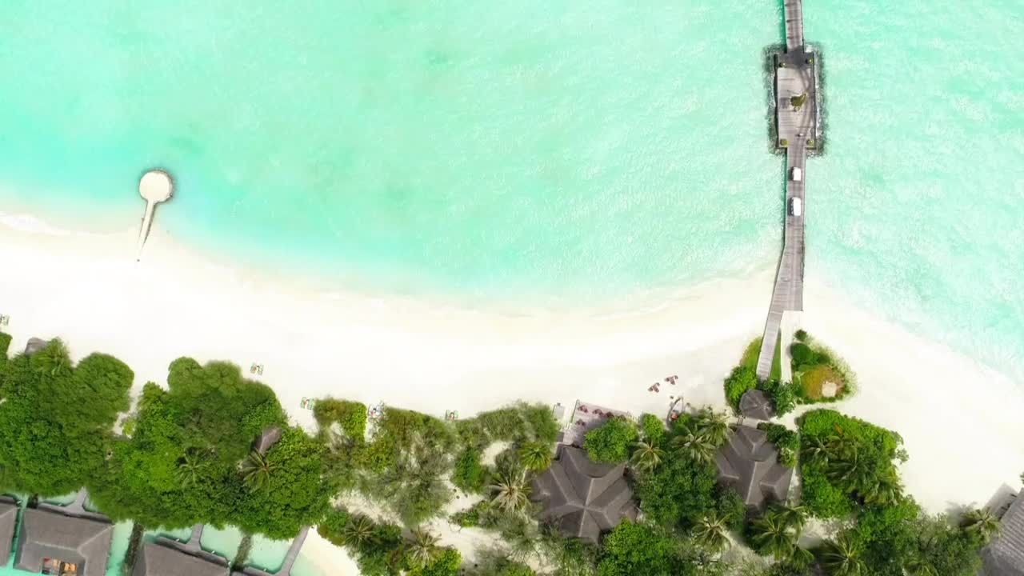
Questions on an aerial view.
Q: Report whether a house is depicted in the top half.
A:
No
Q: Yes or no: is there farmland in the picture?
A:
No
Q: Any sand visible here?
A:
Yes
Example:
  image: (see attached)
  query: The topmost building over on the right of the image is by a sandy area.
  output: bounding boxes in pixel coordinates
[740,390,773,420]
